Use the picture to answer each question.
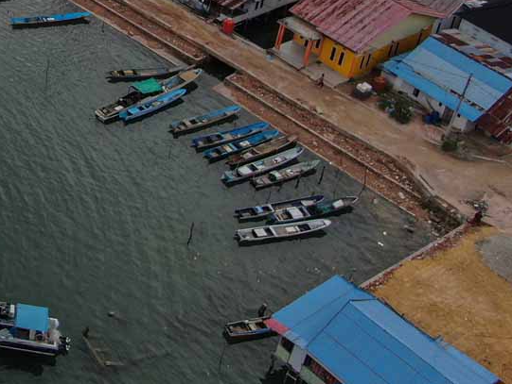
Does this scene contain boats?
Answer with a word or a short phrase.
Yes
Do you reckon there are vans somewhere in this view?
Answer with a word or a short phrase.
No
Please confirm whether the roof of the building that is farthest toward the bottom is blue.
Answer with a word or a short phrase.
Yes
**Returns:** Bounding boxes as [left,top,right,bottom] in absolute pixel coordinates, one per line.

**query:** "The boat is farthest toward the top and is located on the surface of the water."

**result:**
[10,12,92,27]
